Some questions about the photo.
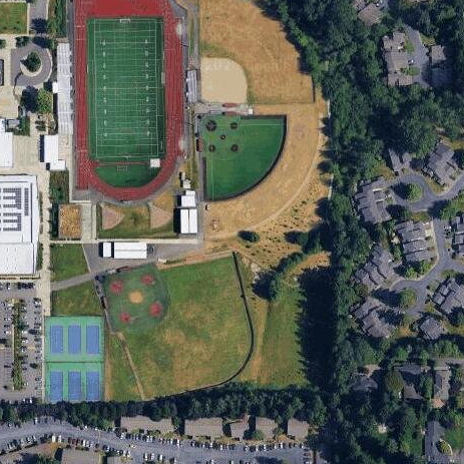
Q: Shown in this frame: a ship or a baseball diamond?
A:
baseball diamond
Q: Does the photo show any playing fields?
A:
Yes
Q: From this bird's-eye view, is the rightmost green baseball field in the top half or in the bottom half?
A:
top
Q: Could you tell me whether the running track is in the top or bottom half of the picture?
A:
top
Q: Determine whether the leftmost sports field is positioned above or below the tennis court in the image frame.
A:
above it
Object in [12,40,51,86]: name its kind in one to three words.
roundabout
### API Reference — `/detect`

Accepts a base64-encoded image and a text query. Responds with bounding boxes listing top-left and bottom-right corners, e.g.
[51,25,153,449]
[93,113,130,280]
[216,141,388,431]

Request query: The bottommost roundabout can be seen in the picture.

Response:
[385,282,424,316]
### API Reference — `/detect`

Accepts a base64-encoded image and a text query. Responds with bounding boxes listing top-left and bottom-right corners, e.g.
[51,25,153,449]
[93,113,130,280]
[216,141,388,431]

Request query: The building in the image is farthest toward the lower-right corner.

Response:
[425,421,454,461]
